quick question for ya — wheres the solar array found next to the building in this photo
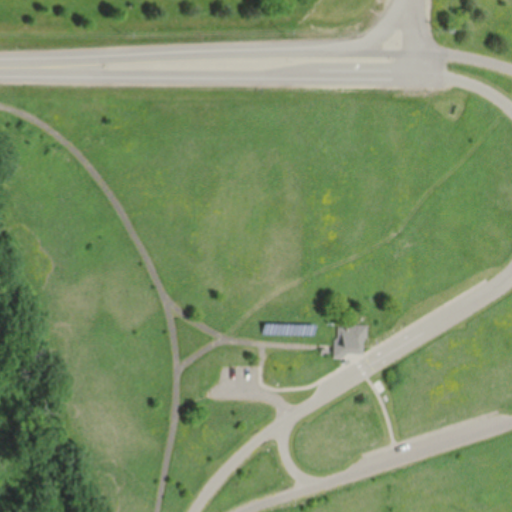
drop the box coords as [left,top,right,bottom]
[262,324,318,338]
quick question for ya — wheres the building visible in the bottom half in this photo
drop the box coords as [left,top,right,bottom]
[333,326,369,360]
